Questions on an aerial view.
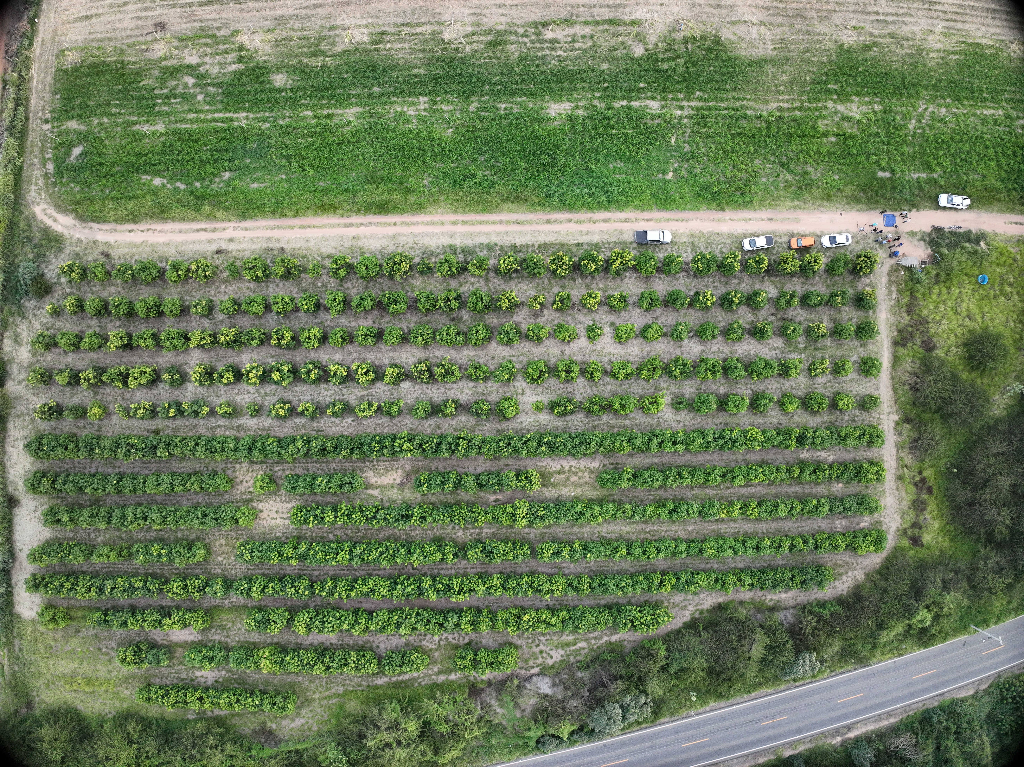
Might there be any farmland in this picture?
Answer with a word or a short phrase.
Yes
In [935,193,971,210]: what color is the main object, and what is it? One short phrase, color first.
white vehicle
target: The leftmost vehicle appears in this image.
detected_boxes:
[634,229,671,245]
